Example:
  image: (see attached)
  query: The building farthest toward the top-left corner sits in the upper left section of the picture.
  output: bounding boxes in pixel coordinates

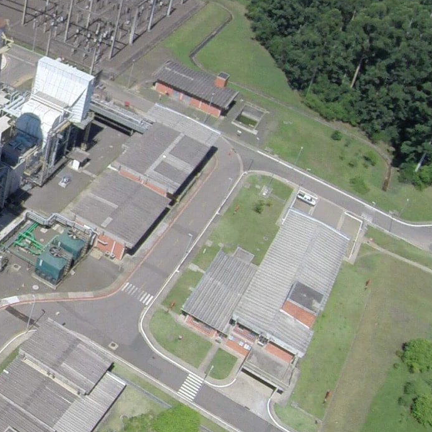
[18,55,99,141]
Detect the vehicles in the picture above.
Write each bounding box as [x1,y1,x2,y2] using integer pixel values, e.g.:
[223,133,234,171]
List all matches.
[297,191,320,204]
